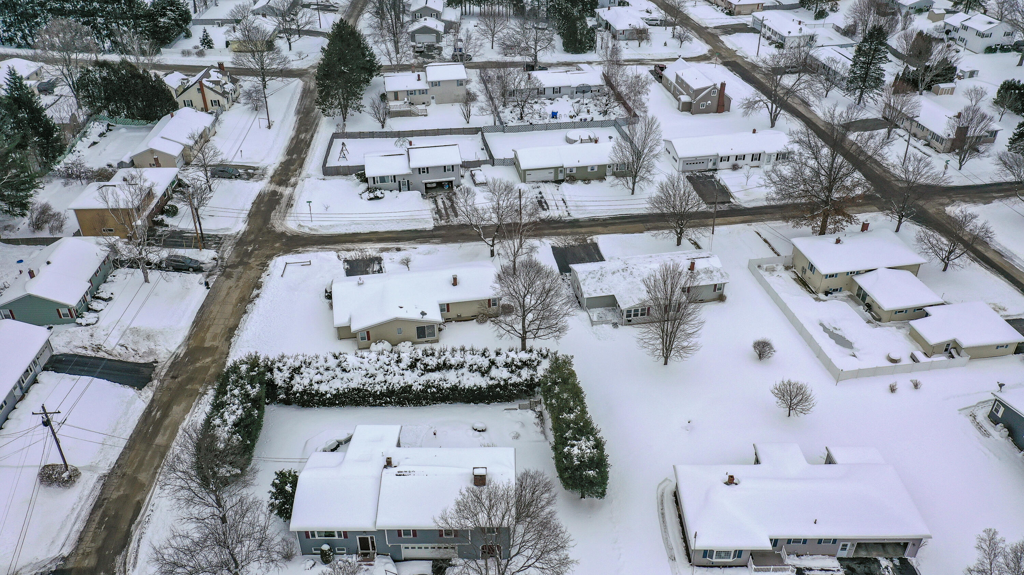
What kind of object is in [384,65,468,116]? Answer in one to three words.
house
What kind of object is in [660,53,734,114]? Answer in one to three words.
house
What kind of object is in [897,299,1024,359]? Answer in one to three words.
building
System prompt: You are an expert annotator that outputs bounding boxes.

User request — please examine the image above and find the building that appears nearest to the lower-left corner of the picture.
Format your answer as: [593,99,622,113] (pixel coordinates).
[0,321,55,429]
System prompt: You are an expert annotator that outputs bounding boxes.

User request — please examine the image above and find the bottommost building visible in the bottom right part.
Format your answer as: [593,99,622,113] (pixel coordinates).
[670,441,931,575]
